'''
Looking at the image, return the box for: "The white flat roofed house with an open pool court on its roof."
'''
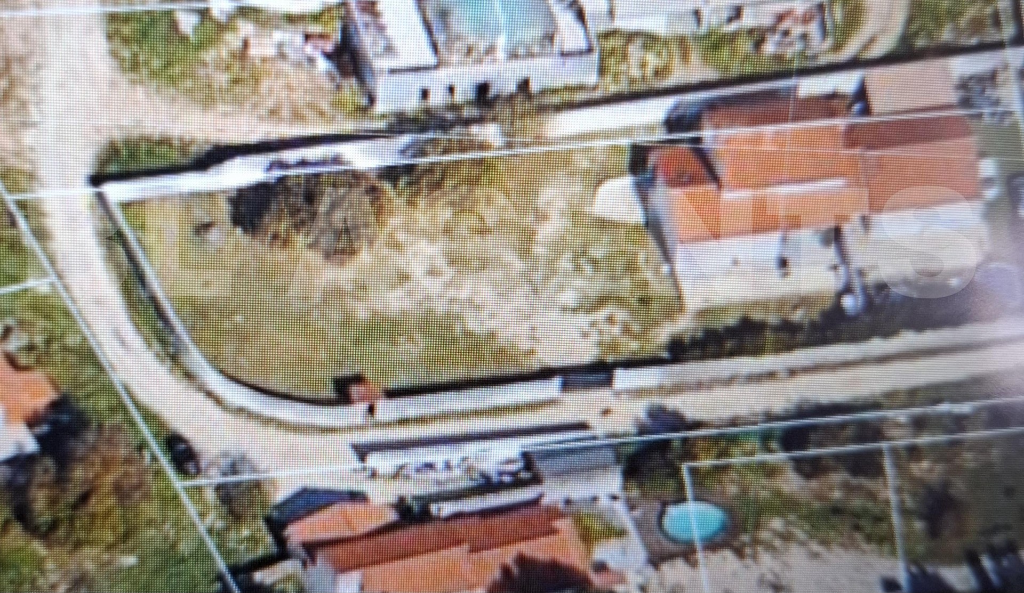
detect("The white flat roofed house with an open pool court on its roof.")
[338,0,593,110]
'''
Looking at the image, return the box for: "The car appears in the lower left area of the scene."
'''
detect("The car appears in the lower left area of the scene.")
[160,427,205,480]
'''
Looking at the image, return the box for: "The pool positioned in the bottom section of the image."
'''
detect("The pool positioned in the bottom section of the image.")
[657,498,732,551]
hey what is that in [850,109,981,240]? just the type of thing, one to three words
house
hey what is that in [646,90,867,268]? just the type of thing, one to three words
house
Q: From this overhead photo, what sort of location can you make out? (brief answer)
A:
residential area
